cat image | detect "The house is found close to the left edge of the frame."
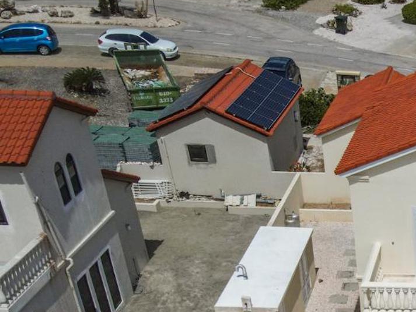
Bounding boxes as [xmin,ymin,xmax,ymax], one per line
[0,86,149,312]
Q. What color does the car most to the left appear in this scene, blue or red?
blue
